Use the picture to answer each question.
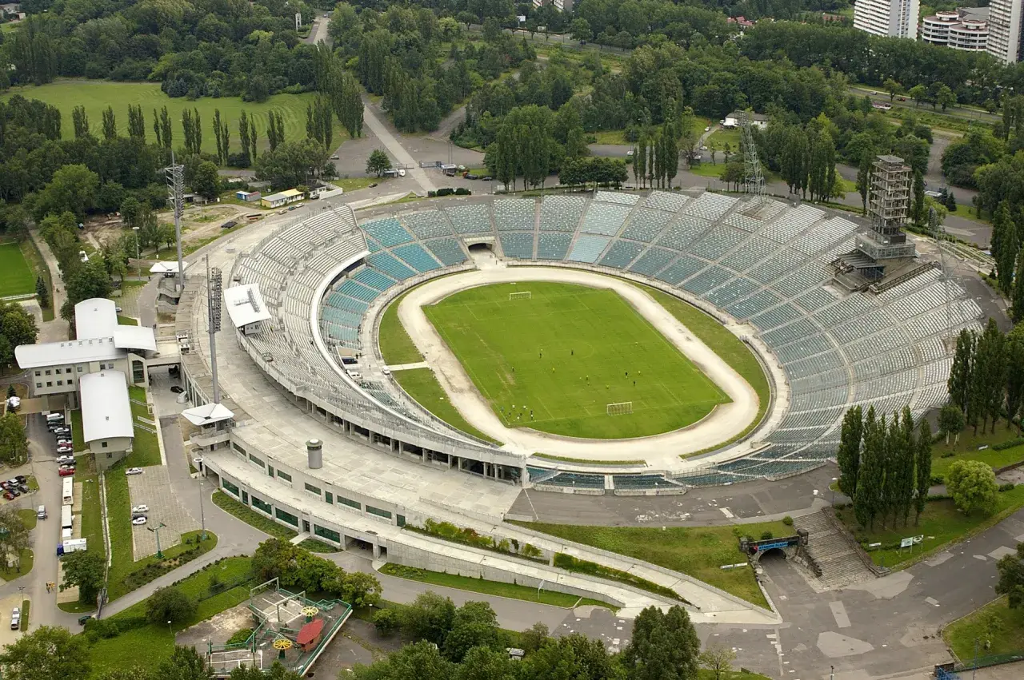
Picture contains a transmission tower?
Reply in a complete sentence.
Yes, there's a transmission tower down there.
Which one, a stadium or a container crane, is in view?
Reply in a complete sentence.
Looking from above, you can make out a stadium.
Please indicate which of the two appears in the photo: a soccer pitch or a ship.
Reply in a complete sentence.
Looking from above, you can make out a soccer pitch.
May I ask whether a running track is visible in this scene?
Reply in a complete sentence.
Yes, the picture does show a running track.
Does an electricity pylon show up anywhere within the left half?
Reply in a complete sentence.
No, looking within the left half, there is no electricity pylon.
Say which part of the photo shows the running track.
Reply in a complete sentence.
The running track sits in the center section of the image.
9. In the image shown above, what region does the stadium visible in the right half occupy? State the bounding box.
[318,193,986,494]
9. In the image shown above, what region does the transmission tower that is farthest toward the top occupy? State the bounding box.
[737,99,765,199]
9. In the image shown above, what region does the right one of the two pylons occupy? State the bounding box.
[932,194,962,300]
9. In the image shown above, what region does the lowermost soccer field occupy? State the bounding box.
[421,281,732,438]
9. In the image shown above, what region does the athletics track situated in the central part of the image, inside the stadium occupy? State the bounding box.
[398,268,759,462]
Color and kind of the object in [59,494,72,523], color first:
white vehicle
